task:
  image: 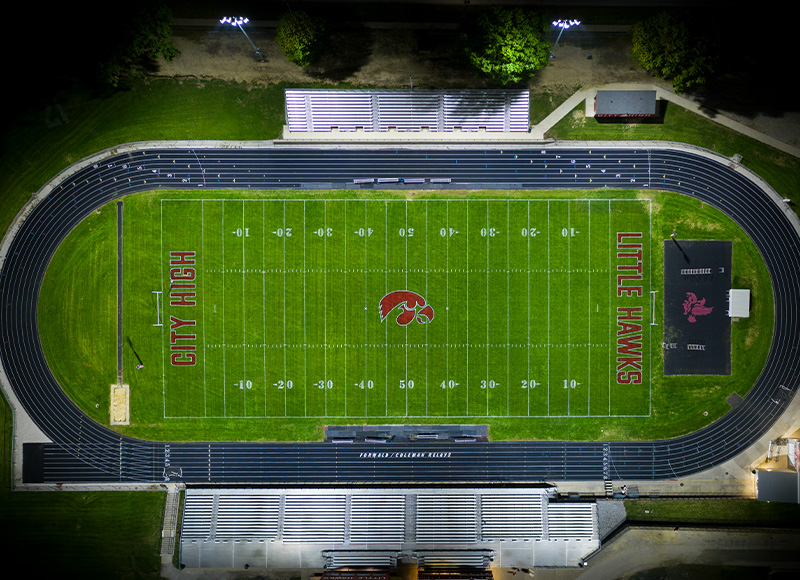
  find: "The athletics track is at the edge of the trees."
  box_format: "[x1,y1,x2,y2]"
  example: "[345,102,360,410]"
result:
[0,147,800,483]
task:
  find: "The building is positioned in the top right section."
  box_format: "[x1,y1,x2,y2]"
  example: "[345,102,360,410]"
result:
[591,89,656,119]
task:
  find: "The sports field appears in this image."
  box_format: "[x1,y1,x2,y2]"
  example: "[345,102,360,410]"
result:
[40,188,773,442]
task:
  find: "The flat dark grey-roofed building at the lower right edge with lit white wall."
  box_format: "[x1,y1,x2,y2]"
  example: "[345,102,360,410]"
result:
[753,468,800,503]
